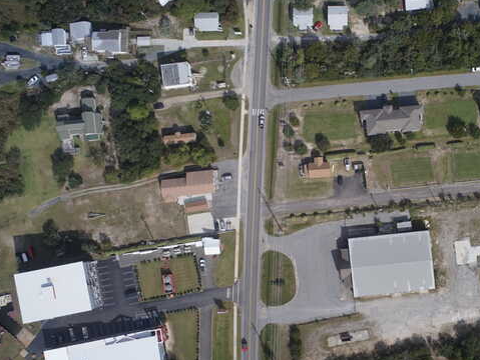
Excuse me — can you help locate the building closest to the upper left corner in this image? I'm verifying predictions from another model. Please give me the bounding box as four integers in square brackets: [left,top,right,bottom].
[41,29,67,47]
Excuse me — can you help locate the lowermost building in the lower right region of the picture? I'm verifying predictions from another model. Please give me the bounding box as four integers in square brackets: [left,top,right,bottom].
[340,231,434,298]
